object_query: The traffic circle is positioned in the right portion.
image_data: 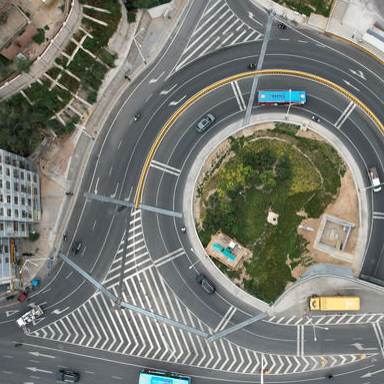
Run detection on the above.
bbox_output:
[138,17,384,312]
